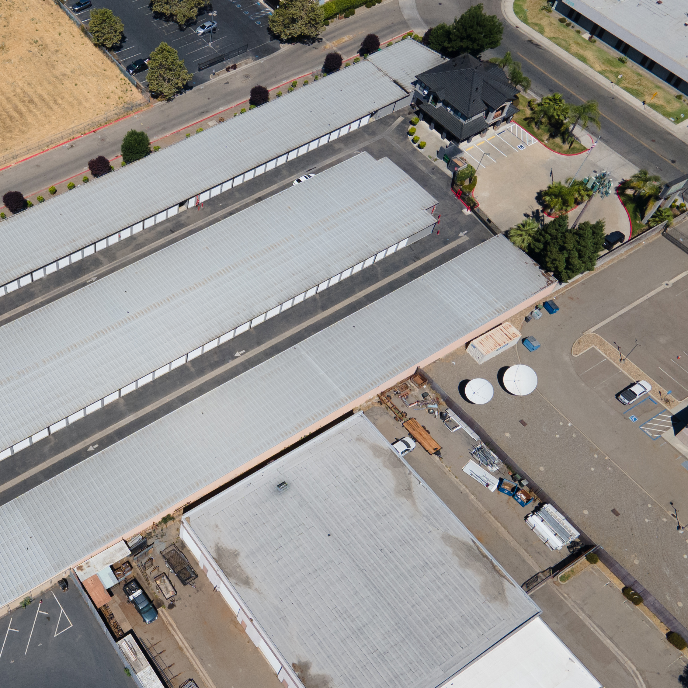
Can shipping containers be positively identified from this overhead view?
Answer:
Yes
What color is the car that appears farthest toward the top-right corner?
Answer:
black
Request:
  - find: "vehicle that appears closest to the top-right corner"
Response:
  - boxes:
[601,231,627,252]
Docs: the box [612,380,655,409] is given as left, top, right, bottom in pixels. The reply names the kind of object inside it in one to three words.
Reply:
truck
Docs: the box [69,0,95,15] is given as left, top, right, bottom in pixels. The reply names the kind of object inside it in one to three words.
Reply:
car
